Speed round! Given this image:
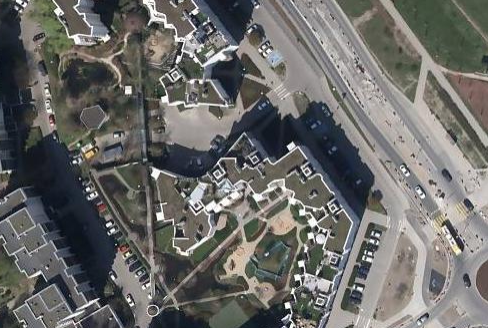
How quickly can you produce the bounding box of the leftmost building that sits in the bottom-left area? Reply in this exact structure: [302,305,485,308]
[0,182,126,328]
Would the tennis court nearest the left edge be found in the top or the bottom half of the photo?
bottom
